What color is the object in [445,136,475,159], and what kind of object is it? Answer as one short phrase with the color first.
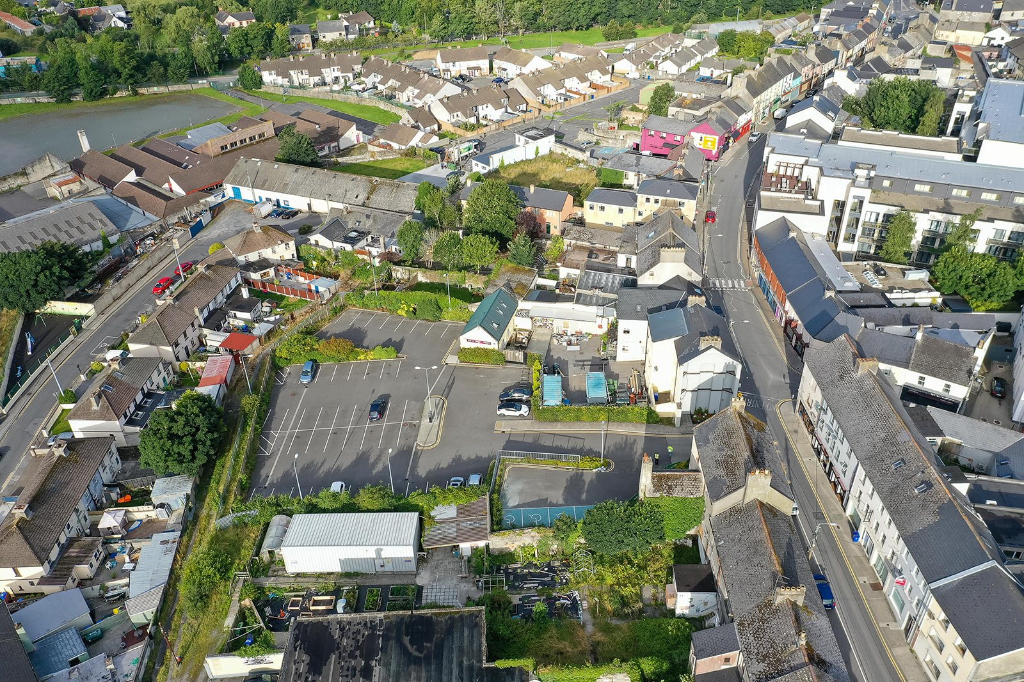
white truck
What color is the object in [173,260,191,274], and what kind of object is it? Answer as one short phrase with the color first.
red car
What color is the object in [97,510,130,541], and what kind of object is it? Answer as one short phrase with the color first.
white gazebo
